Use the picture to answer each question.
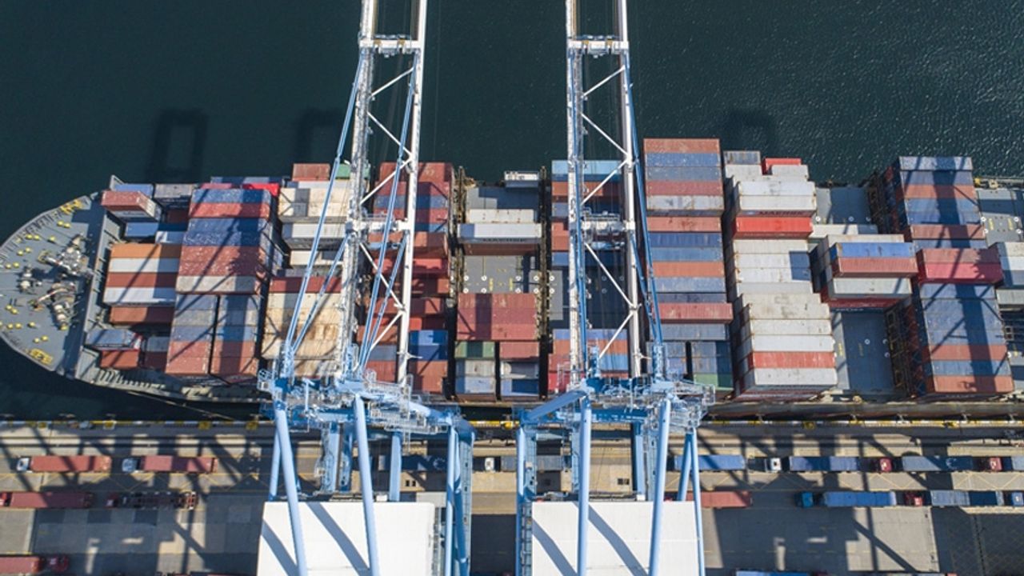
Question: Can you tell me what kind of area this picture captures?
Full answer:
This looks like a port.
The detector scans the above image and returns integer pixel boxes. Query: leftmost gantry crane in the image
[238,0,495,576]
